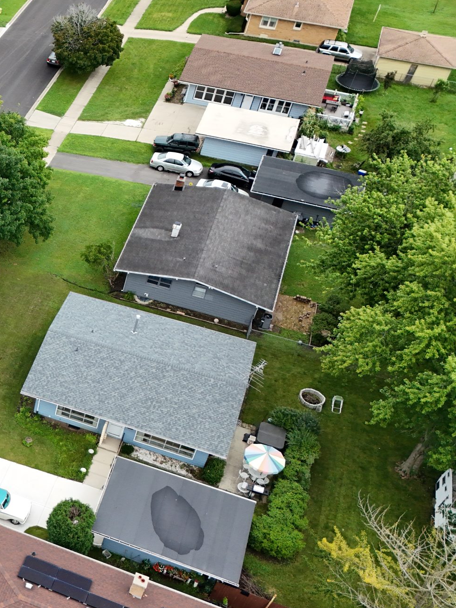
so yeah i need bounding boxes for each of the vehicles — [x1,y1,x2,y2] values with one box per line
[205,160,257,186]
[46,48,63,66]
[313,41,359,67]
[196,176,253,197]
[0,483,42,524]
[155,130,202,157]
[151,152,205,177]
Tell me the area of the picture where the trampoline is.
top right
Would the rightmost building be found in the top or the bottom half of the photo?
top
